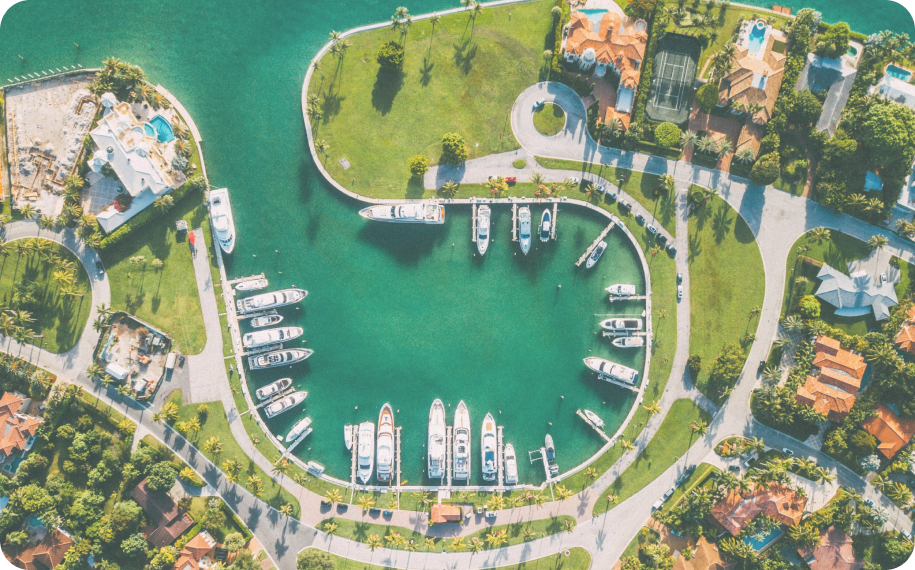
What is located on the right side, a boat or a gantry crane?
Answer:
boat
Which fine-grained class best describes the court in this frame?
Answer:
tennis court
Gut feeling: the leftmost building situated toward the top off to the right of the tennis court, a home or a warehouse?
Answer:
home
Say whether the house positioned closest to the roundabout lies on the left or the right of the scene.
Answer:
right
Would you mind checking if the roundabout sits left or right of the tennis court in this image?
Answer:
left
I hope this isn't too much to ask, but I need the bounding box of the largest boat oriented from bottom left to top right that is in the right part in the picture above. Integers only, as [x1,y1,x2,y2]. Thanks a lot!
[587,241,608,267]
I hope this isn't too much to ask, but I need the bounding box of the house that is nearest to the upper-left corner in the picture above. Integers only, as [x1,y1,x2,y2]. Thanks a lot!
[87,100,179,231]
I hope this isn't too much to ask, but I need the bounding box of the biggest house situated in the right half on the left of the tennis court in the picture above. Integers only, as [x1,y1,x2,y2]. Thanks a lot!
[563,10,650,127]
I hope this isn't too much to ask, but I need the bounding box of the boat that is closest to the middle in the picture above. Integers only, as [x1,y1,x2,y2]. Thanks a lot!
[477,205,491,255]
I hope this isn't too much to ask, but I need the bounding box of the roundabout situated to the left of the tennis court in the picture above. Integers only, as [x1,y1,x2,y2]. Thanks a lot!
[512,83,587,139]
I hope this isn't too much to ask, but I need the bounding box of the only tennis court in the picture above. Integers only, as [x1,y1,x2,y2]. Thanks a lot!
[646,29,708,122]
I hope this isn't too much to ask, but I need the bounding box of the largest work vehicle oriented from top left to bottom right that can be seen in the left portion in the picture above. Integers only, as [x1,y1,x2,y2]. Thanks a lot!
[130,348,151,365]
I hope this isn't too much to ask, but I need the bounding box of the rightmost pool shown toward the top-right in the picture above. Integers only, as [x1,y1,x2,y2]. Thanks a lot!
[885,63,914,80]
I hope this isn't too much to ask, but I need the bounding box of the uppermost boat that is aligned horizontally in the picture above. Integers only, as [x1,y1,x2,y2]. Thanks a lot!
[359,204,446,222]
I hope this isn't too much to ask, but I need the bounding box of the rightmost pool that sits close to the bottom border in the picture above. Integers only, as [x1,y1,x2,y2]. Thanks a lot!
[743,524,785,550]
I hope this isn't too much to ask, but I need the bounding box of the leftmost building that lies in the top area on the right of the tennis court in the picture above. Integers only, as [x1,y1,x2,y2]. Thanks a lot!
[703,31,786,162]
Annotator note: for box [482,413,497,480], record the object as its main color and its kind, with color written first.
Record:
white boat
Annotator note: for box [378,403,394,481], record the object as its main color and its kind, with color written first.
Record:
white boat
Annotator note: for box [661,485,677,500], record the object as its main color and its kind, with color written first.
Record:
white vehicle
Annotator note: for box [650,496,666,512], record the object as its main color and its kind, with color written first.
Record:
white vehicle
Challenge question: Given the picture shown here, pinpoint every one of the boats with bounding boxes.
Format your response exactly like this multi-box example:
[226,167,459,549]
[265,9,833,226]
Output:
[249,348,313,371]
[237,289,307,313]
[286,415,313,440]
[539,209,550,242]
[504,443,517,483]
[518,207,531,255]
[600,318,642,330]
[245,327,303,347]
[265,391,306,418]
[252,314,283,327]
[585,410,605,427]
[306,461,324,474]
[583,358,638,383]
[550,464,559,473]
[605,284,635,295]
[428,399,446,477]
[545,434,556,462]
[209,189,235,253]
[257,378,291,398]
[359,204,446,222]
[587,241,608,267]
[378,403,394,481]
[477,205,491,255]
[482,413,497,480]
[613,337,643,348]
[358,421,374,483]
[453,401,471,479]
[344,423,353,449]
[236,278,269,290]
